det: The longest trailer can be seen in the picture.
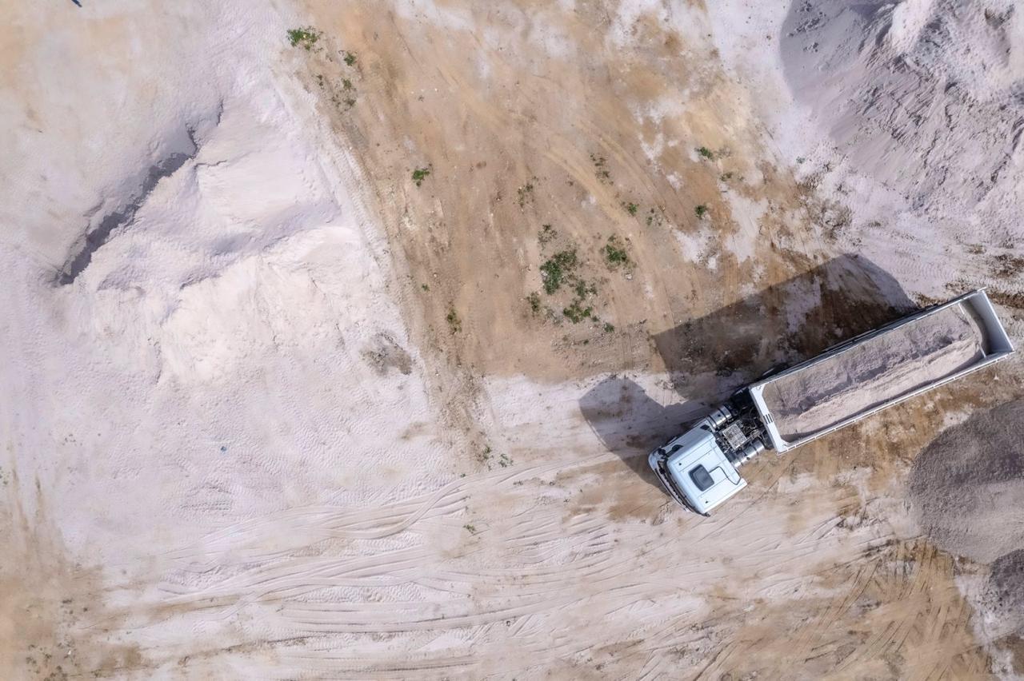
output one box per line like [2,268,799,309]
[735,284,1019,456]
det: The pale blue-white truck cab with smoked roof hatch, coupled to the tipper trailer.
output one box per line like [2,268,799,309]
[649,377,761,522]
